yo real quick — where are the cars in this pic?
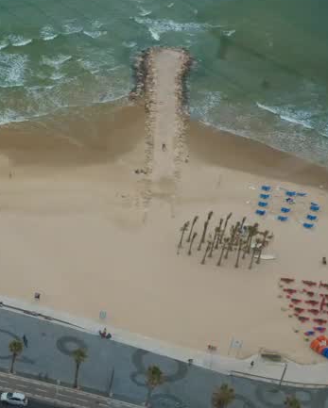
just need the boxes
[0,391,28,408]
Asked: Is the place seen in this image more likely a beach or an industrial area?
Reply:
beach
